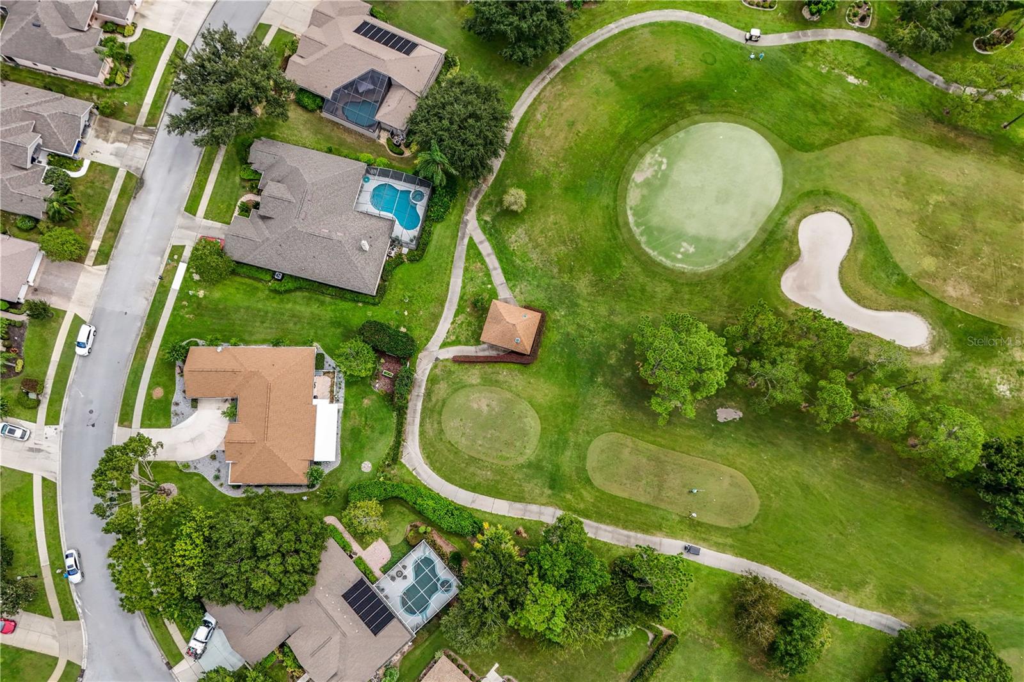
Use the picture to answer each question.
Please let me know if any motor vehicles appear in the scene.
Yes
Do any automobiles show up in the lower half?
Yes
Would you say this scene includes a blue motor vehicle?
No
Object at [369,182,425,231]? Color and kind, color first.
blue swimming pool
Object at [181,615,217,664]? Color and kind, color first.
white truck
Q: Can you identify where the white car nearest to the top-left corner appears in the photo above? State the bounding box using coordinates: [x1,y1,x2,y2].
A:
[76,325,97,355]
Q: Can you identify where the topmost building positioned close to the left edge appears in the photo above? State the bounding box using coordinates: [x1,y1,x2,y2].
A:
[0,0,145,85]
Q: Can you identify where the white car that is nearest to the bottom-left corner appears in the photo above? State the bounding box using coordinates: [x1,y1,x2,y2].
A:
[65,547,86,585]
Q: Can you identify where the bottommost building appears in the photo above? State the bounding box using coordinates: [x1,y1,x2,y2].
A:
[419,654,471,682]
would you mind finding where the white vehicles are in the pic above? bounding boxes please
[65,547,86,585]
[746,28,763,42]
[76,325,97,355]
[181,615,217,664]
[0,423,32,442]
